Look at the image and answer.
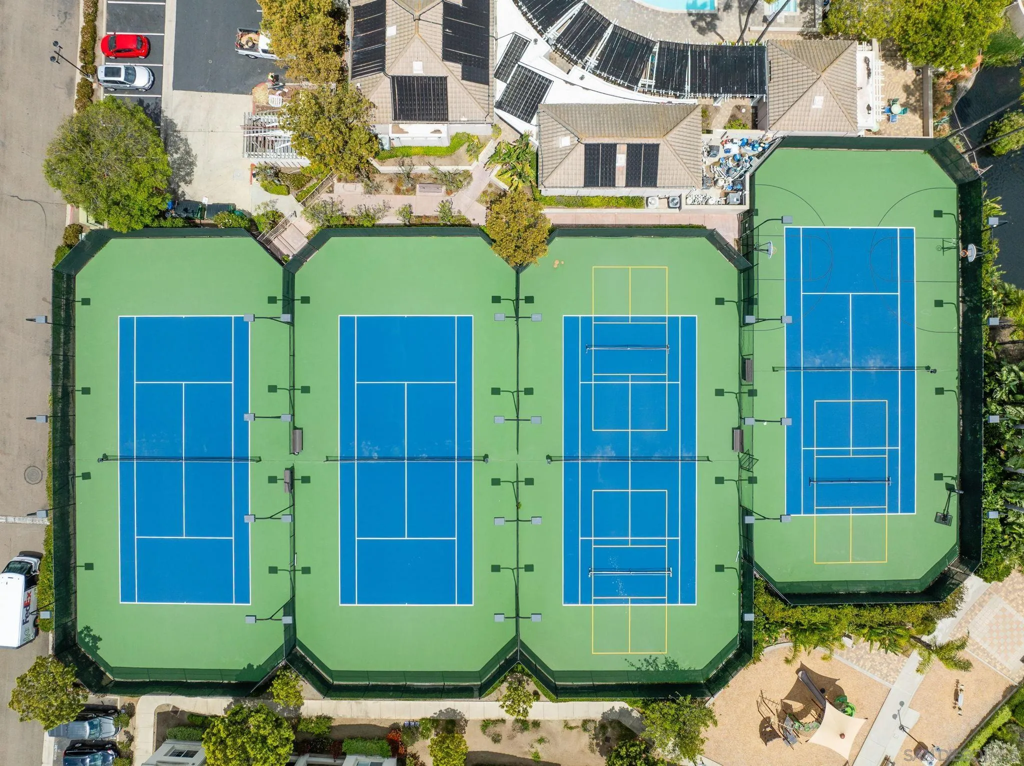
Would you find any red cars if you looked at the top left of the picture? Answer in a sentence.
Yes, a red car is visible at the top left of the picture.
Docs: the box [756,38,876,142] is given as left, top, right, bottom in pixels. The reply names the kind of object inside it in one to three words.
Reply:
building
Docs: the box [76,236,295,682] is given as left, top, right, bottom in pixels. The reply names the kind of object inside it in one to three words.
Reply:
tennis court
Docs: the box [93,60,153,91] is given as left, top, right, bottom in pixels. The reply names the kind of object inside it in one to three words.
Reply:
car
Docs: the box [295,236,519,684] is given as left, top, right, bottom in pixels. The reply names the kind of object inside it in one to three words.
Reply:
tennis court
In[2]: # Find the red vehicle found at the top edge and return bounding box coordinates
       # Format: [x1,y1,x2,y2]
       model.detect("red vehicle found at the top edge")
[102,29,152,59]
